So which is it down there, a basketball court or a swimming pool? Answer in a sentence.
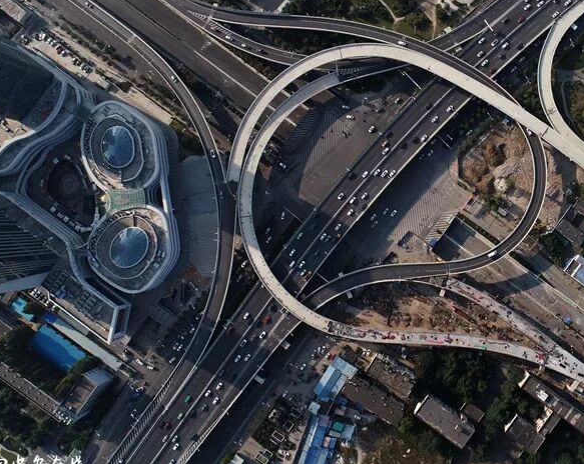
There is a swimming pool in the scene.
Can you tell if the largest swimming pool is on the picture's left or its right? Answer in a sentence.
The largest swimming pool appears in the left half of the scene.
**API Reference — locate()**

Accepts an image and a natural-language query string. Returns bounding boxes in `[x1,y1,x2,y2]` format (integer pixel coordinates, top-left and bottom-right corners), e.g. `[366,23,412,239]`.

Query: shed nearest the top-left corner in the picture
[0,0,31,22]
